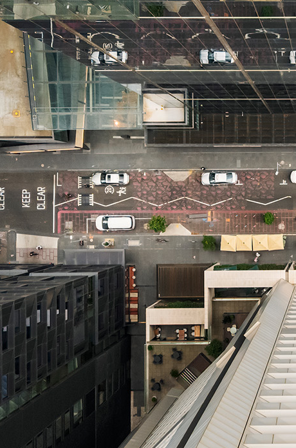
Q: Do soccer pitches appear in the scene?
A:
No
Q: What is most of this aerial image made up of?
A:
buildings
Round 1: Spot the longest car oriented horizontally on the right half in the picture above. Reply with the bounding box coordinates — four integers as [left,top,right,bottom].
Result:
[201,171,238,186]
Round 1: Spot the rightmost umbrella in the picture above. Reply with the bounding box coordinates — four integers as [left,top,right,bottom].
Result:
[268,234,283,250]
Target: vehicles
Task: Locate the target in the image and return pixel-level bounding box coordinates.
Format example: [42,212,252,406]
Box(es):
[290,169,296,184]
[91,169,129,187]
[96,214,135,232]
[201,171,238,186]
